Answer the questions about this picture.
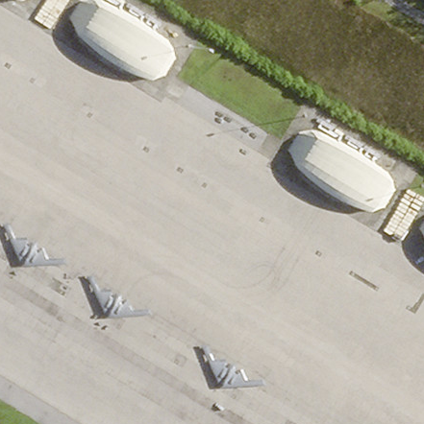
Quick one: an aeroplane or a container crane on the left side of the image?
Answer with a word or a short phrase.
aeroplane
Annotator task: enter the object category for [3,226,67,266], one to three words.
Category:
airplane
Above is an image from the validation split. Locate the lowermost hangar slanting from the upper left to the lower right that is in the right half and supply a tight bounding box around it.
[287,129,395,211]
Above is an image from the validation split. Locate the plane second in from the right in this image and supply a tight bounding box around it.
[88,279,152,318]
